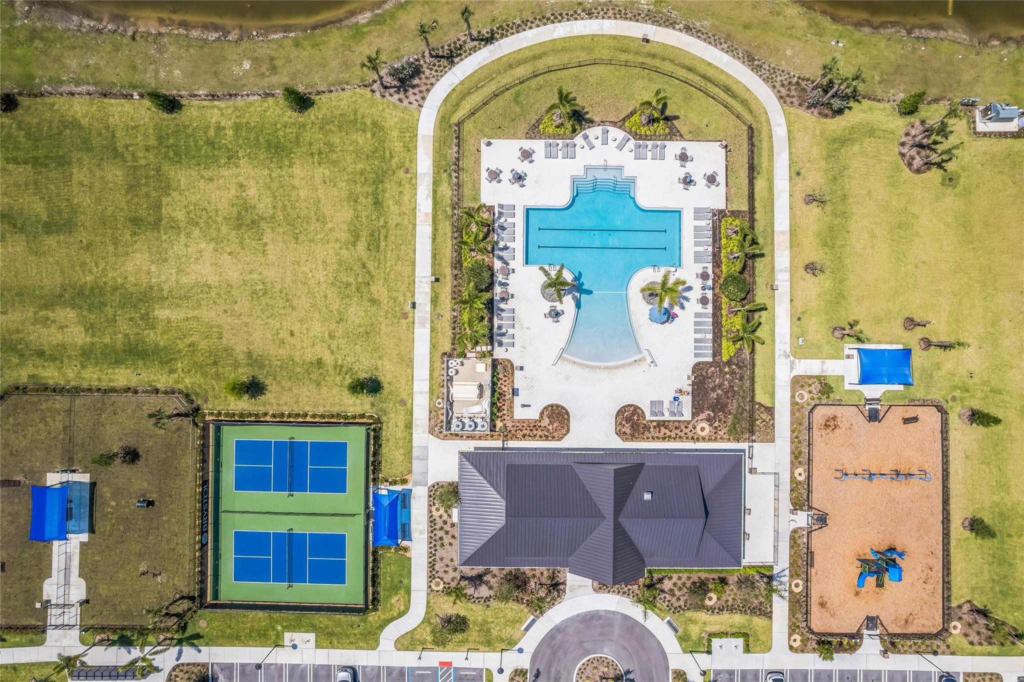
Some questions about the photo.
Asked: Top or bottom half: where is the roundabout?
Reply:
bottom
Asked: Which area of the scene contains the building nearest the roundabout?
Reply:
bottom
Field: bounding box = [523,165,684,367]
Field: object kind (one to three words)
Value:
swimming pool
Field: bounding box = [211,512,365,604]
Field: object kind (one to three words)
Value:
sports court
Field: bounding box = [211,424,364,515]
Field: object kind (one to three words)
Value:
sports court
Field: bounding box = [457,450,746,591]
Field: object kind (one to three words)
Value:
building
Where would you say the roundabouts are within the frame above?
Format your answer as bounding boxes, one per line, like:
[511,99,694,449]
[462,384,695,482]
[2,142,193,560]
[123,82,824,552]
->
[530,610,669,682]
